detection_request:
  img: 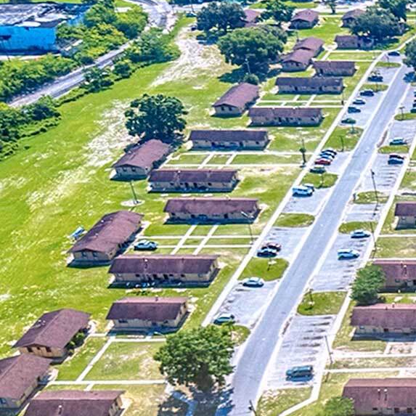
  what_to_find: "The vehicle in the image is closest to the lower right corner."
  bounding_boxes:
[286,366,313,379]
